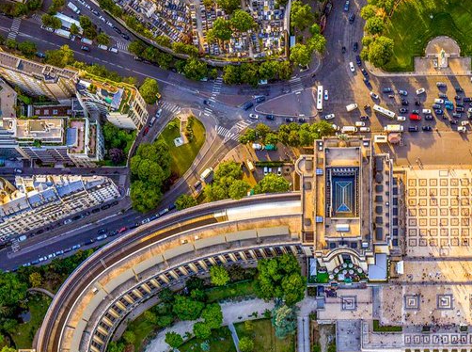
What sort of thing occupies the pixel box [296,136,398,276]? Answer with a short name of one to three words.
building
